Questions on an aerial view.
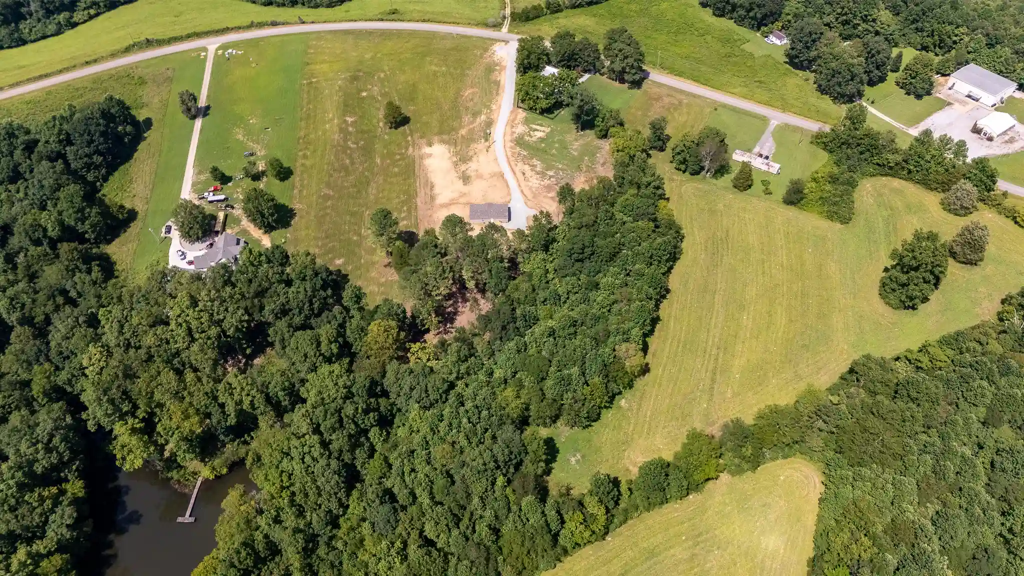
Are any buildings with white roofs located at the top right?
Yes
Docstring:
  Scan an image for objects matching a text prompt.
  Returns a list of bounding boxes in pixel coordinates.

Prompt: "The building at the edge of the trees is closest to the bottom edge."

[193,234,243,272]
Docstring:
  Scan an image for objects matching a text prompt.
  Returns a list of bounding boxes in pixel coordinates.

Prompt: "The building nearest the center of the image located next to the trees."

[470,201,508,226]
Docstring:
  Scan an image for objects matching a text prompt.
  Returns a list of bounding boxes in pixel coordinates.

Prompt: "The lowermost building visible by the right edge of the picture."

[977,110,1017,139]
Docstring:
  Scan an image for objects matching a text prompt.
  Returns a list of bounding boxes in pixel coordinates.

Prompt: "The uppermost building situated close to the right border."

[946,61,1010,106]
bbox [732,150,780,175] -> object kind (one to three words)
house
